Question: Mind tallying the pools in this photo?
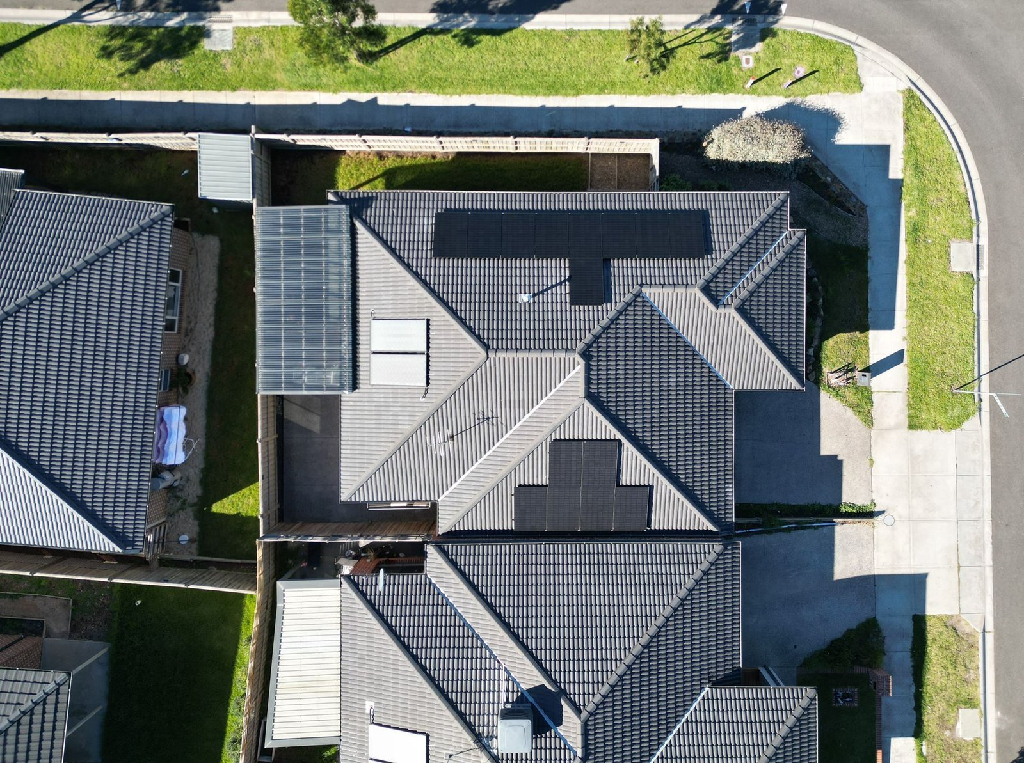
0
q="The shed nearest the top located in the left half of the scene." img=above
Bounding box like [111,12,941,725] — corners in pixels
[197,132,256,212]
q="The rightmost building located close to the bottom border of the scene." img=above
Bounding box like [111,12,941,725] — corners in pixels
[337,538,820,763]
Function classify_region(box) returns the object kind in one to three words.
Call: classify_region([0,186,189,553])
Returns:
house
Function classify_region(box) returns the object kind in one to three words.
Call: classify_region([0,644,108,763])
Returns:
house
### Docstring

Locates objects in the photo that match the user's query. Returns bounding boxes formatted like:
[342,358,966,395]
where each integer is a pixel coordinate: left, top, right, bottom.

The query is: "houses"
[337,538,820,763]
[0,644,108,763]
[0,186,189,553]
[326,188,808,535]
